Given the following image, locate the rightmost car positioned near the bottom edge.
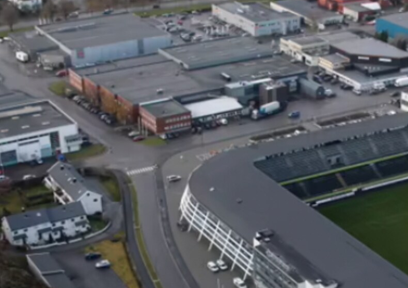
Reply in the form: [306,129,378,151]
[232,276,248,288]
